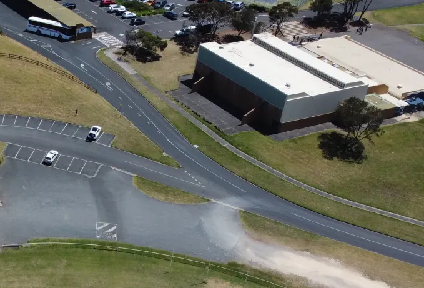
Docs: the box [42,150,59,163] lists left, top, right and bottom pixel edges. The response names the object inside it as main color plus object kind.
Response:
white vehicle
